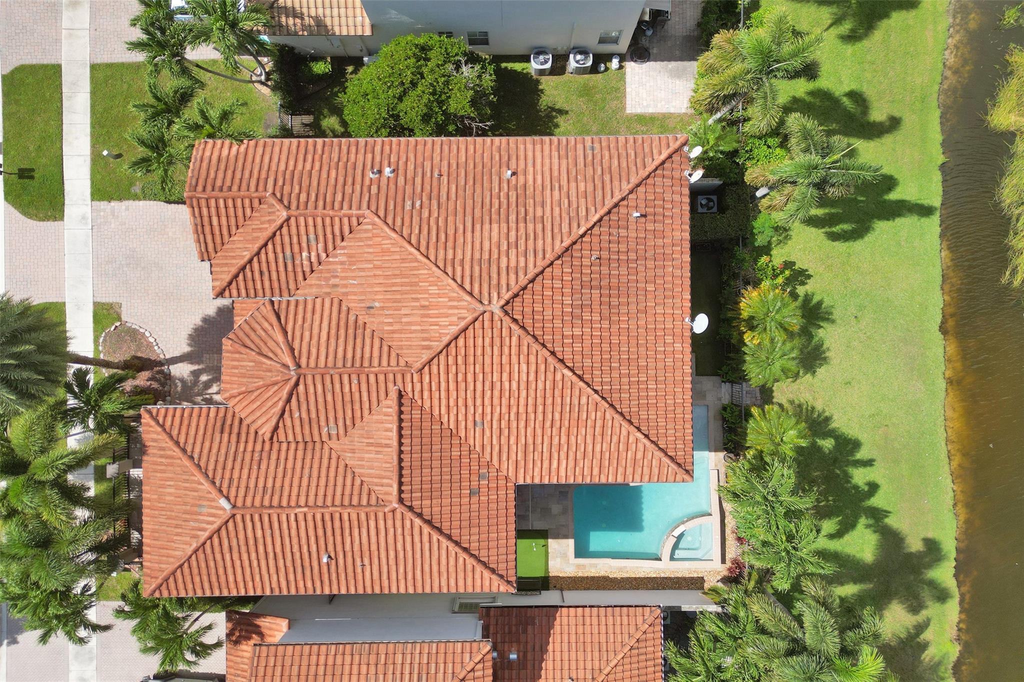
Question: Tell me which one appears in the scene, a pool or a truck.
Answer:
pool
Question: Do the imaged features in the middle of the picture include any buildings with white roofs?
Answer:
No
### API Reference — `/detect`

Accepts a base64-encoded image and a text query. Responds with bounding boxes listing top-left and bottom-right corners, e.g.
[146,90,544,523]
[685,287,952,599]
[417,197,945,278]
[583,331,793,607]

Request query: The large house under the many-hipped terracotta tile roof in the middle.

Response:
[137,131,697,601]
